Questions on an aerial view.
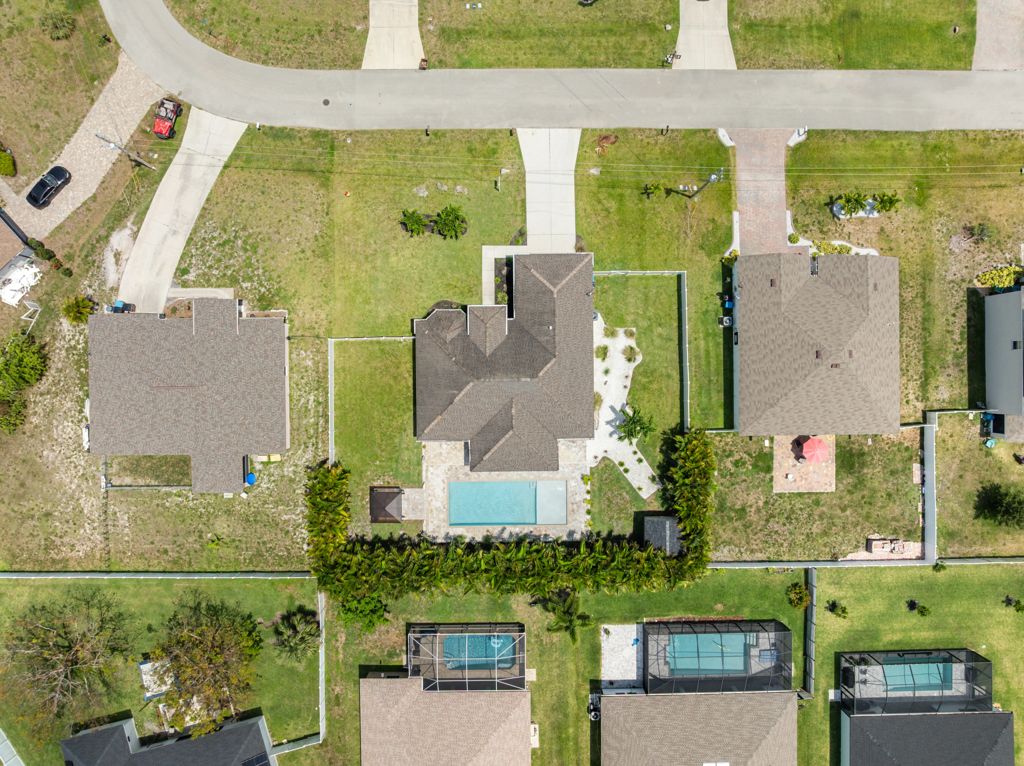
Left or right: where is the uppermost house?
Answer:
left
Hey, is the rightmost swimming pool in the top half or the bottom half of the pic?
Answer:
bottom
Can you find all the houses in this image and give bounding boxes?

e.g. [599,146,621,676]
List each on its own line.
[358,671,532,766]
[416,253,594,472]
[734,254,900,436]
[59,714,278,766]
[0,210,36,284]
[841,707,1014,766]
[600,686,798,766]
[85,296,291,494]
[986,284,1024,445]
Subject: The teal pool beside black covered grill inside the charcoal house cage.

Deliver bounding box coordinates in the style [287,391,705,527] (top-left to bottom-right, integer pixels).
[881,664,954,693]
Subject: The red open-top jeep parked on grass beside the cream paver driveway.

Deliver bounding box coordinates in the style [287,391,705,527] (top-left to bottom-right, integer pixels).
[153,95,185,141]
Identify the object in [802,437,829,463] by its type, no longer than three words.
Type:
umbrella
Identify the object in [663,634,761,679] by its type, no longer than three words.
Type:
swimming pool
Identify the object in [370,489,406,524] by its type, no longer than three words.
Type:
gazebo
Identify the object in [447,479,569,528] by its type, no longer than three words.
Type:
swimming pool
